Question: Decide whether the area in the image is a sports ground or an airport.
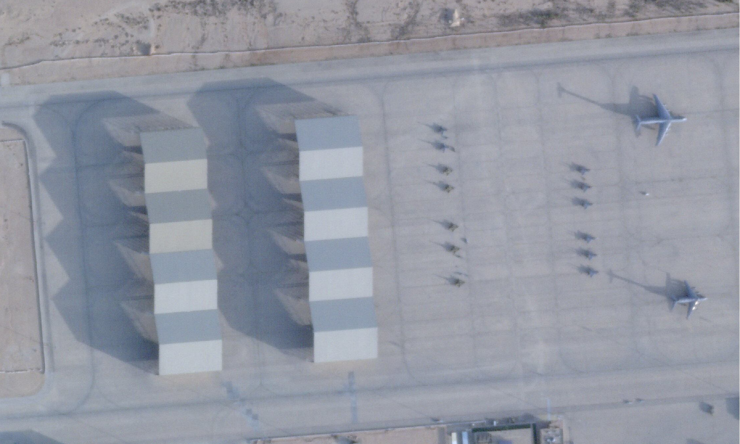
airport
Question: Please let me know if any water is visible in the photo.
No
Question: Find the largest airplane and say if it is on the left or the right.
right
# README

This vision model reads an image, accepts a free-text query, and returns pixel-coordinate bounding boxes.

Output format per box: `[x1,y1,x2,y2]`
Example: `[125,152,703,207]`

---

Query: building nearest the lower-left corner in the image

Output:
[134,127,220,375]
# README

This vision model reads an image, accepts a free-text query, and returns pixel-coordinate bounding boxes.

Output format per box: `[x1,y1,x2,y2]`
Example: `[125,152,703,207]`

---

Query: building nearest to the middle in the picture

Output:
[288,116,377,363]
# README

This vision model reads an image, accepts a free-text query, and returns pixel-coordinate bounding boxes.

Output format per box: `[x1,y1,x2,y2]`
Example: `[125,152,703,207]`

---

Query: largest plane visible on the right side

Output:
[635,96,687,147]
